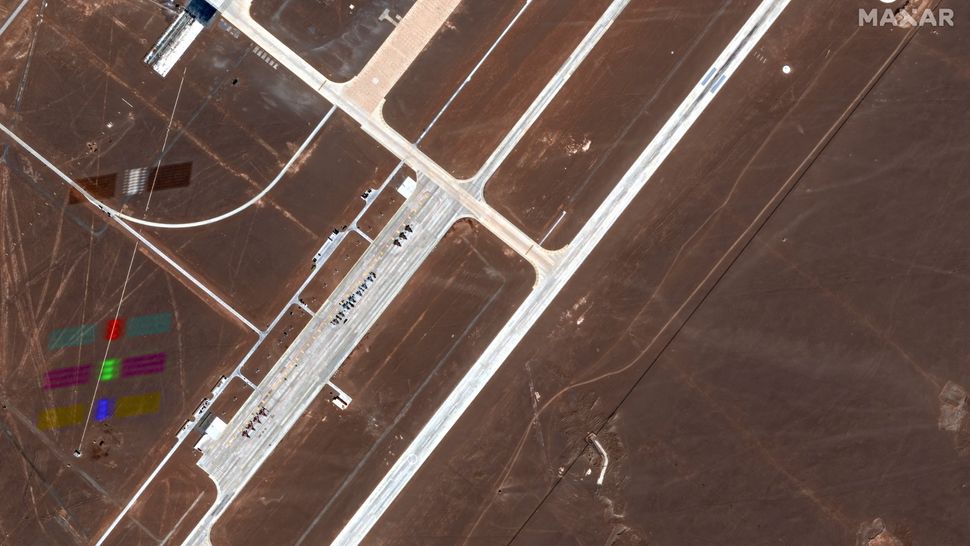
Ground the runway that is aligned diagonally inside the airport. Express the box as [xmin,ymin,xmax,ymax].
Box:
[331,0,791,546]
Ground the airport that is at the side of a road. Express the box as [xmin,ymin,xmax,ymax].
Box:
[179,0,791,546]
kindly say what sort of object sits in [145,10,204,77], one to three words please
hangar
